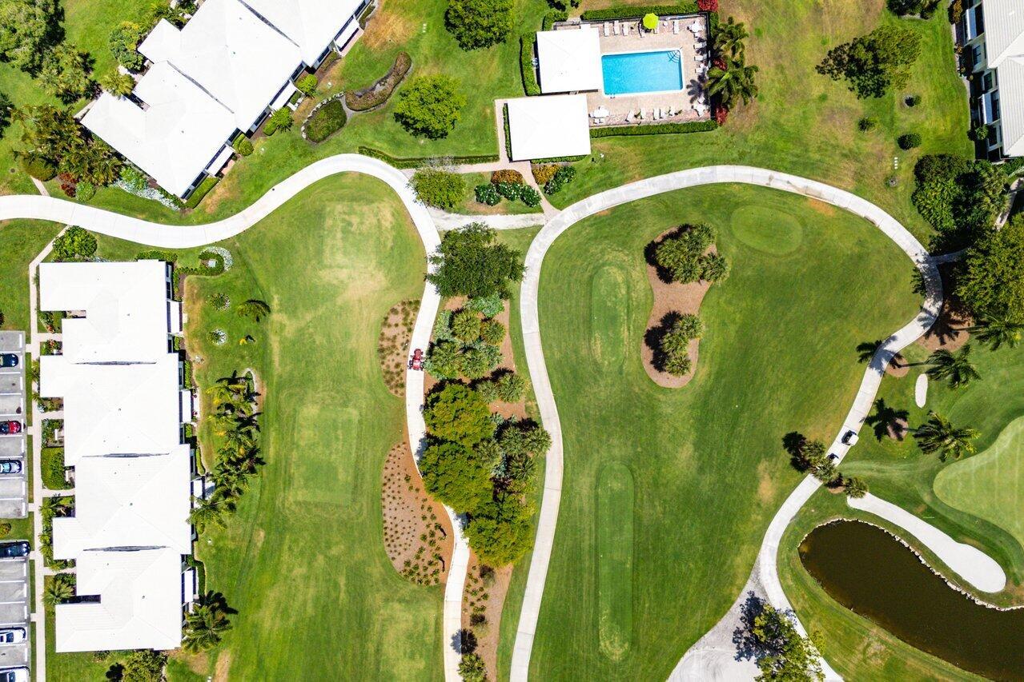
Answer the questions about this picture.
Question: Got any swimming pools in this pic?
Yes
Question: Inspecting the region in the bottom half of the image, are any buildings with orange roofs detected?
No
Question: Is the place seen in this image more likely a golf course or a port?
golf course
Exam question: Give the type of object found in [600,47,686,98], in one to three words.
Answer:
swimming pool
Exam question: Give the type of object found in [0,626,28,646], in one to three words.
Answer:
car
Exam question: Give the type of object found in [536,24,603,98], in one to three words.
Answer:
building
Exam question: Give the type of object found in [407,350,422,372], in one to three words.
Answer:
work vehicle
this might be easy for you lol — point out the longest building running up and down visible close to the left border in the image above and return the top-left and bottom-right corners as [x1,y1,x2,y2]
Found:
[40,258,210,653]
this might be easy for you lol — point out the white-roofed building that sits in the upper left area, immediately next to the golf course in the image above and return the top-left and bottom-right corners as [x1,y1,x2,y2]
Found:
[82,0,373,198]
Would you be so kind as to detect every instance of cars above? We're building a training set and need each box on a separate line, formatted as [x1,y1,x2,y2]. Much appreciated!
[0,540,33,560]
[0,352,21,370]
[0,458,24,476]
[0,626,28,646]
[0,418,23,436]
[0,666,32,682]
